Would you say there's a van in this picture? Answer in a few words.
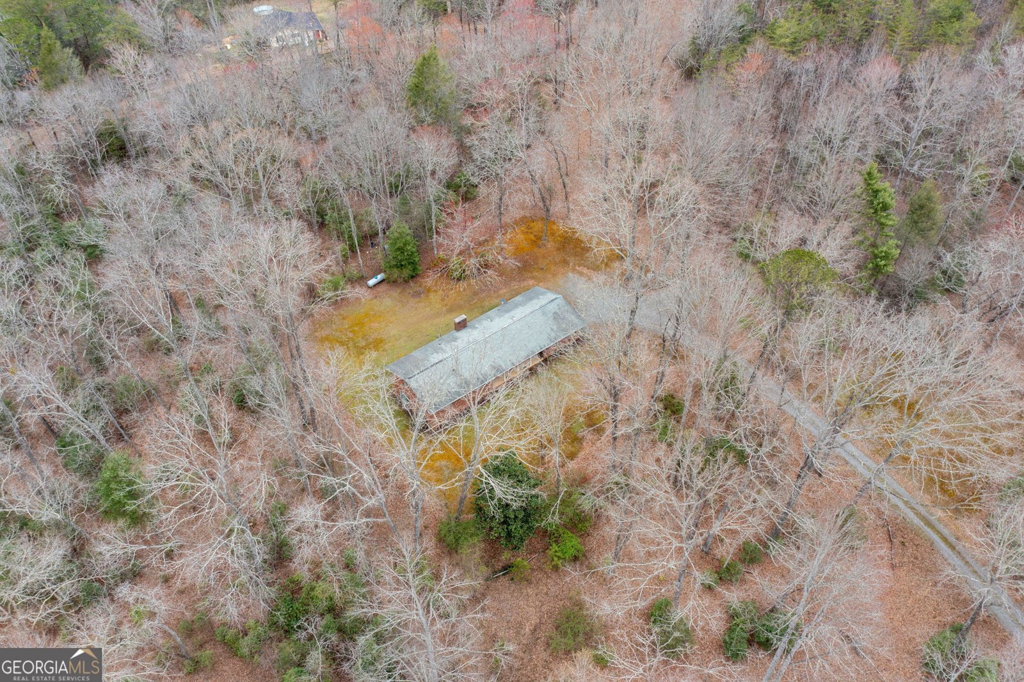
No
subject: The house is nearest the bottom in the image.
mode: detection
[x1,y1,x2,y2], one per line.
[386,288,586,426]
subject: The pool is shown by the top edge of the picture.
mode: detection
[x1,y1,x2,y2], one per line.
[249,2,275,17]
